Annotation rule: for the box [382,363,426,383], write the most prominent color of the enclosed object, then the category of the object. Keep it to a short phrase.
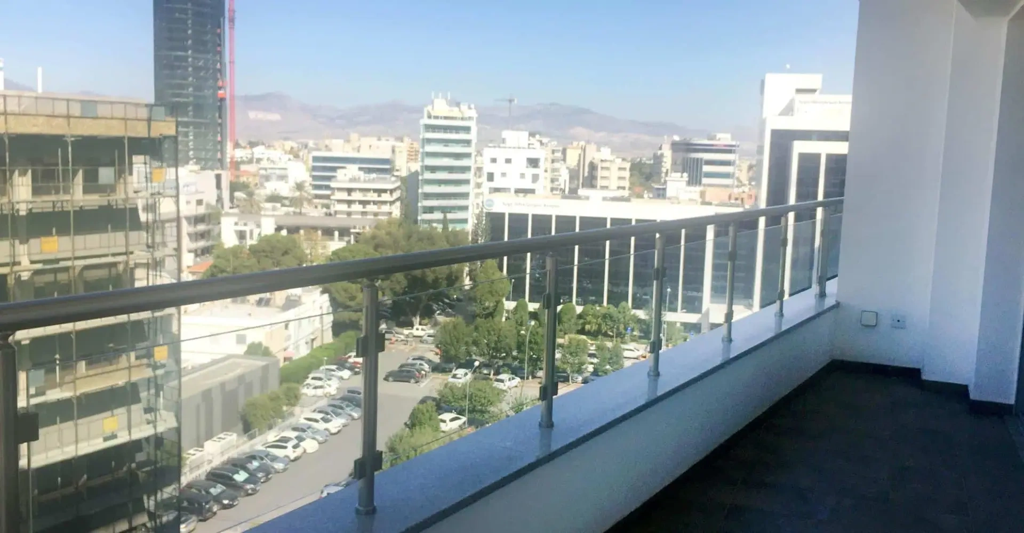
gray car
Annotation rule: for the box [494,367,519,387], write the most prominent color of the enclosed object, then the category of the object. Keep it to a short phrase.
white car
